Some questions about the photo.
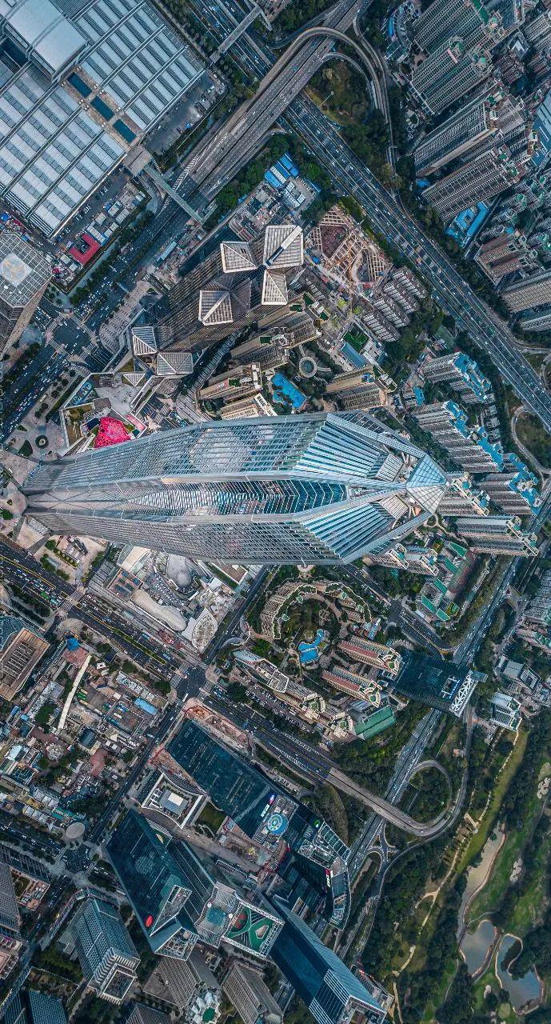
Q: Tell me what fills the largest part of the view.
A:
buildings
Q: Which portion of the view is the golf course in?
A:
bottom right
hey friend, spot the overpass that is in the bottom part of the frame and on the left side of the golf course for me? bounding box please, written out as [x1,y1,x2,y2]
[320,762,416,827]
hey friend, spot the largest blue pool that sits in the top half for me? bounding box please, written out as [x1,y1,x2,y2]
[269,372,306,407]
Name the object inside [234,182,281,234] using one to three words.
building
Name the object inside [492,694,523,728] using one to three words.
building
